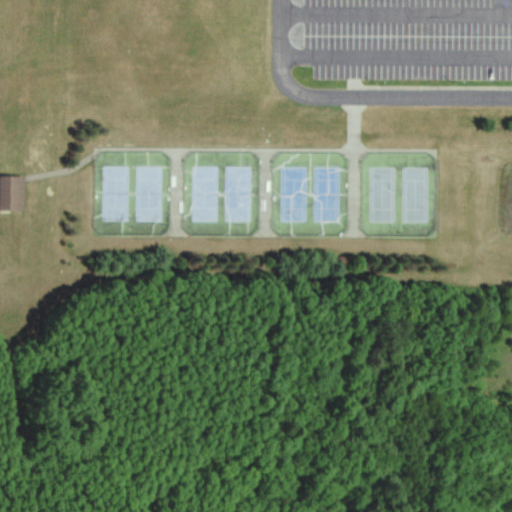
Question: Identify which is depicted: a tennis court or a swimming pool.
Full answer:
The image shows a tennis court.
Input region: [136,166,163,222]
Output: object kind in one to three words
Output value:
tennis court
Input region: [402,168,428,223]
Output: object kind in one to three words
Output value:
tennis court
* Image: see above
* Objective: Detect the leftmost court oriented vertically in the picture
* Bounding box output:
[102,166,130,222]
